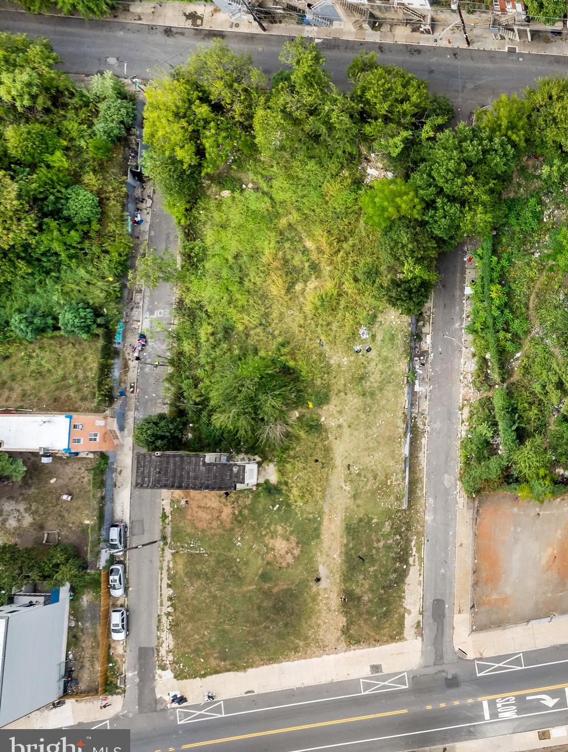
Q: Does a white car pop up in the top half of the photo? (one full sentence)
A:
No, the scene shows no white car in the top half of the photo.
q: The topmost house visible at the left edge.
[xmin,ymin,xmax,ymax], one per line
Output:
[0,414,116,452]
